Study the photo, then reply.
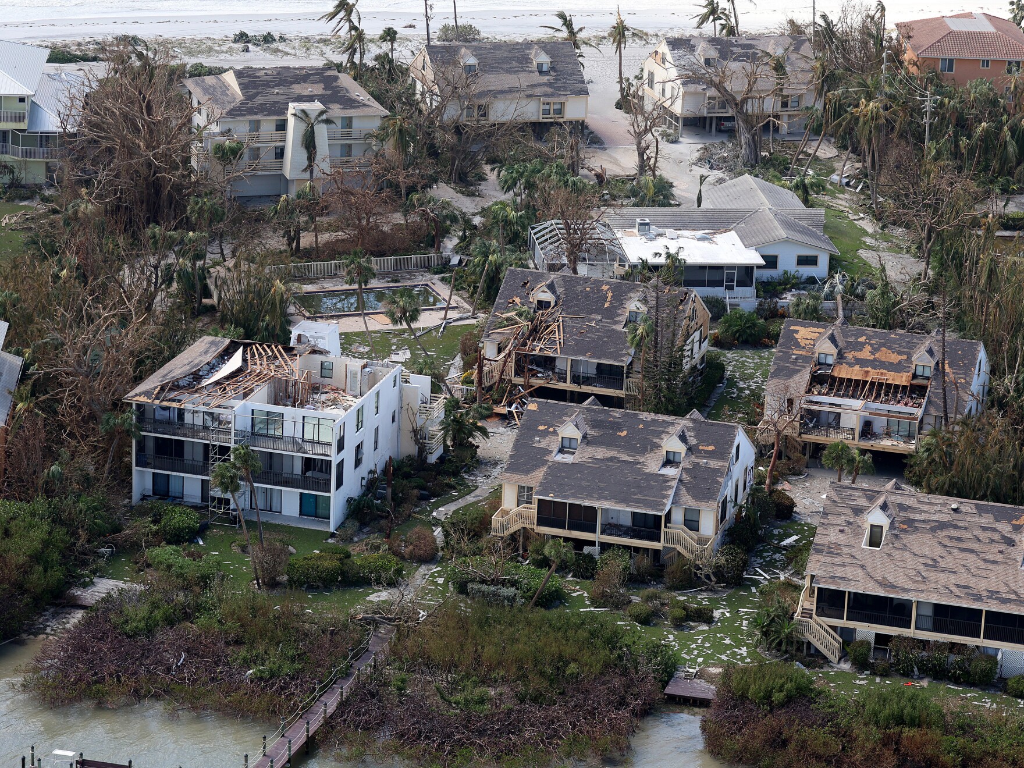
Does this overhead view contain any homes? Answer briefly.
Yes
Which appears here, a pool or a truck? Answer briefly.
pool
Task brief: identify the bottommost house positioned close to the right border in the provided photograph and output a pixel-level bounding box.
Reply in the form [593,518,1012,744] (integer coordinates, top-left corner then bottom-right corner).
[780,482,1024,678]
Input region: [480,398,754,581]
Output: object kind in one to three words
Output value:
house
